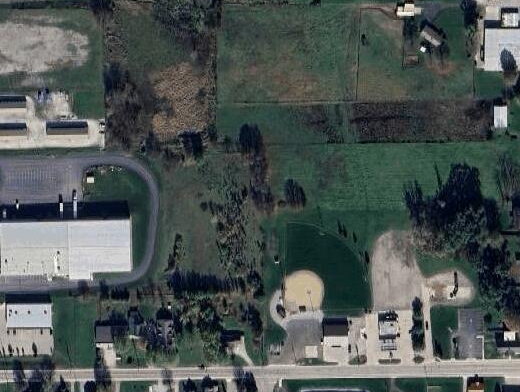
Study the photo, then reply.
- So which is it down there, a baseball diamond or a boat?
baseball diamond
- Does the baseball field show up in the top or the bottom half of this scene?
bottom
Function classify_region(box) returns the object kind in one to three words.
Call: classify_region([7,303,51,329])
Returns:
building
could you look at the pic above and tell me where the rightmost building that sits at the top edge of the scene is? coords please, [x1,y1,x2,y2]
[485,13,520,70]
